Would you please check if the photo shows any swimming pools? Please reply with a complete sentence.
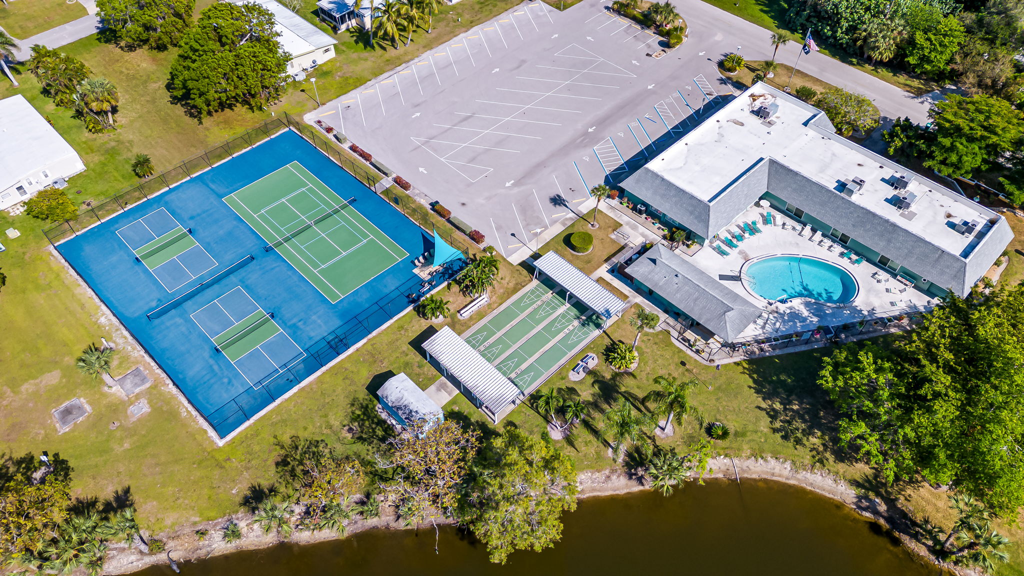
Yes, looking at the shot, I can spot a swimming pool.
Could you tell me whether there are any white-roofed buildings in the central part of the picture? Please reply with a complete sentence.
Yes, a white-roofed building is visible in the central part of the picture.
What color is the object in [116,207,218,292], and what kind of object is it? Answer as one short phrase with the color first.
blue sports court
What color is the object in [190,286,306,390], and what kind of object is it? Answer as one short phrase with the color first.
blue sports court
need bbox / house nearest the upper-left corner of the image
[0,93,86,208]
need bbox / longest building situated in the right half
[618,81,1014,297]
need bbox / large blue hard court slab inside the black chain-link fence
[51,125,471,452]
